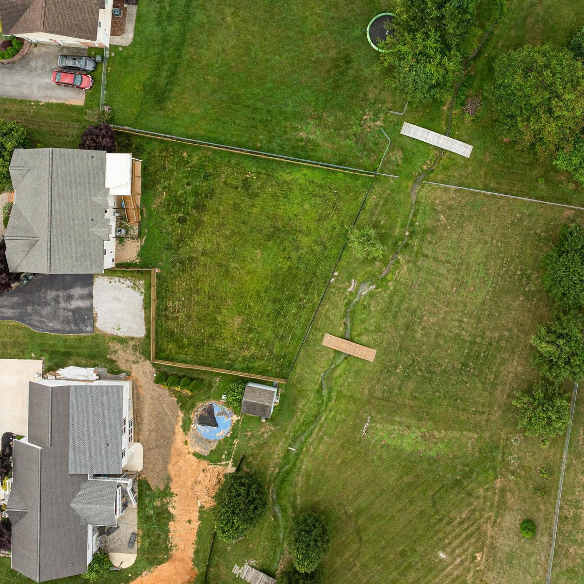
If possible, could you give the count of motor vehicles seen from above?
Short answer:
2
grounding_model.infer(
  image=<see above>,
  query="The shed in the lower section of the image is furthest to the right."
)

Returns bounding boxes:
[242,383,277,415]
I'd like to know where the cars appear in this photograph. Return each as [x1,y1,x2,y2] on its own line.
[51,70,94,92]
[57,54,98,73]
